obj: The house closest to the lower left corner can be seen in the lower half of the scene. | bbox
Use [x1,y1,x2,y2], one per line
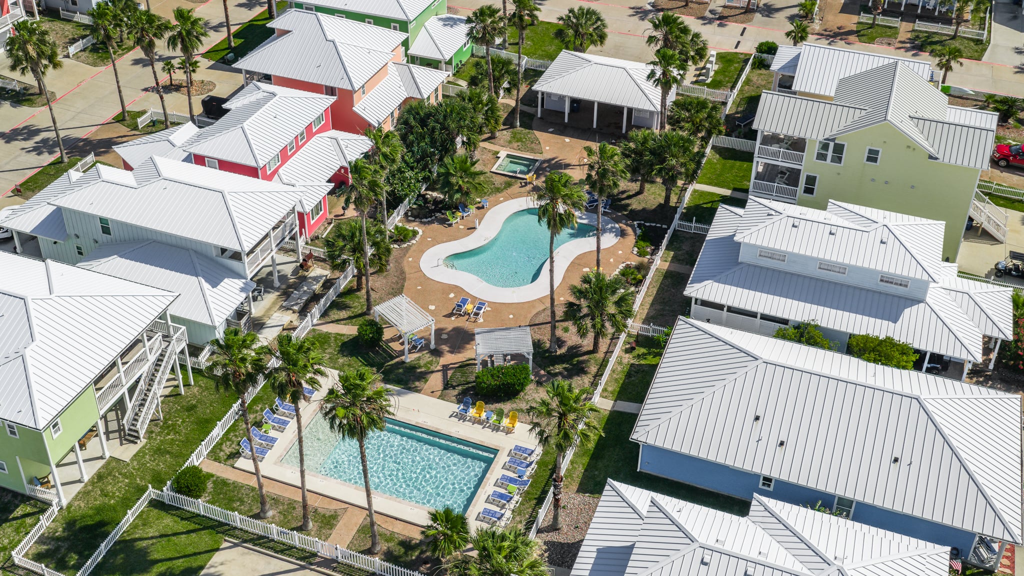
[0,250,207,502]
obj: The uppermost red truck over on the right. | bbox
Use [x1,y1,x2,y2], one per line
[993,147,1024,169]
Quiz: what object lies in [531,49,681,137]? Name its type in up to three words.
building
